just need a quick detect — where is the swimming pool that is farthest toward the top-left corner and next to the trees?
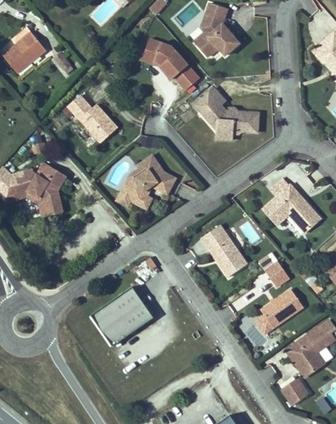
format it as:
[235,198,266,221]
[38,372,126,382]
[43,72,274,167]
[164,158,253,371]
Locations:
[89,0,128,26]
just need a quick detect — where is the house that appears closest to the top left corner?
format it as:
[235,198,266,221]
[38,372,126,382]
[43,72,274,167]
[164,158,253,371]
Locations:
[1,26,46,76]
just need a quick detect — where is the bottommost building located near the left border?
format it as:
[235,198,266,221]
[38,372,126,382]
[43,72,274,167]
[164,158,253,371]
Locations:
[0,163,66,217]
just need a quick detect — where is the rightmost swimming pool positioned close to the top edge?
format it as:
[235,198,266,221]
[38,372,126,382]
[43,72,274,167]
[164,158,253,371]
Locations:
[170,0,204,37]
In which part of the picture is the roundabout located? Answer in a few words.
bottom left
